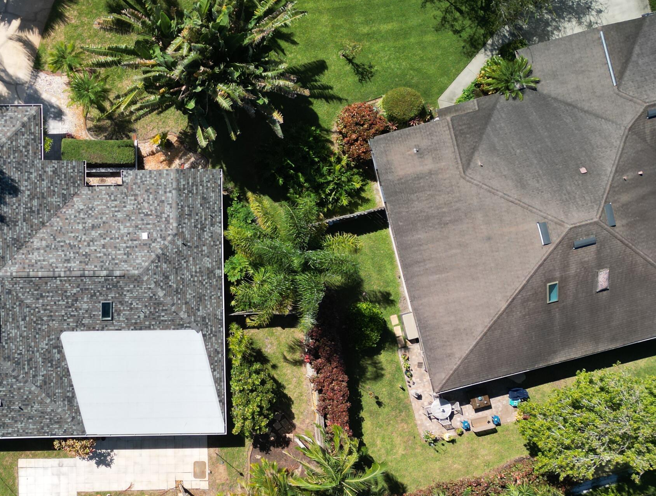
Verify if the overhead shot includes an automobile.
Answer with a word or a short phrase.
No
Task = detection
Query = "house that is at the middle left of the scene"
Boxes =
[0,103,229,440]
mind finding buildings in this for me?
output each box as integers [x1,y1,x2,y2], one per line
[0,103,229,440]
[367,9,656,396]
